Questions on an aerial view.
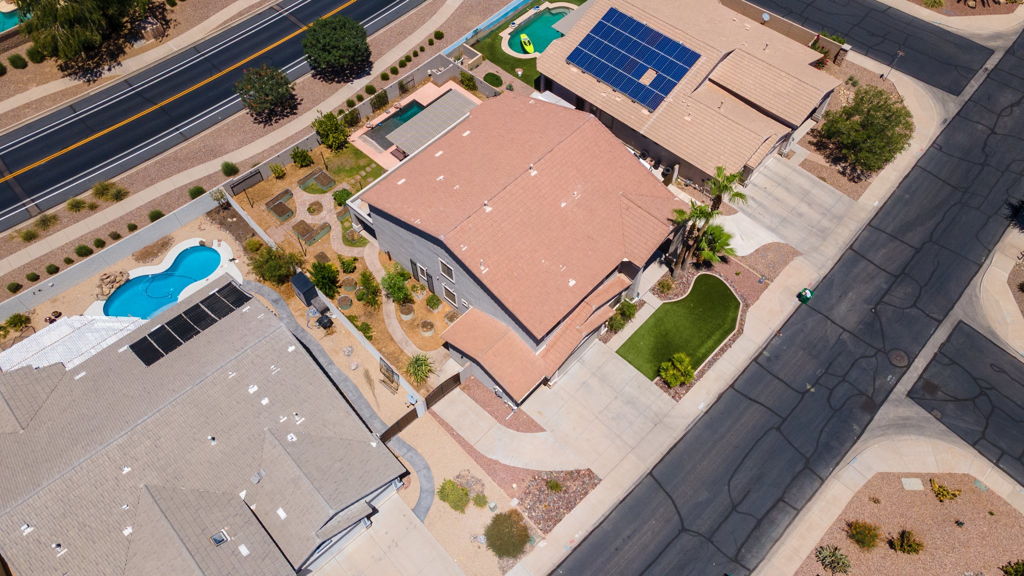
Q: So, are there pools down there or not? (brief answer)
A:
Yes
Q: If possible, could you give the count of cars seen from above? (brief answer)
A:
0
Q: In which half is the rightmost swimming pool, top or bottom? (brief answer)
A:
top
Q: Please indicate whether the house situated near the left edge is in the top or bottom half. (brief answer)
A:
bottom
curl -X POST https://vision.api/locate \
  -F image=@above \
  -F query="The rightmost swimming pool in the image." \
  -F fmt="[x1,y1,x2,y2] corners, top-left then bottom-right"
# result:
[508,6,568,54]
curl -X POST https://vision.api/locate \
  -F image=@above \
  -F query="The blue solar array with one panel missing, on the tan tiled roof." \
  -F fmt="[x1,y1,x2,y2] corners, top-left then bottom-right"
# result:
[564,8,699,111]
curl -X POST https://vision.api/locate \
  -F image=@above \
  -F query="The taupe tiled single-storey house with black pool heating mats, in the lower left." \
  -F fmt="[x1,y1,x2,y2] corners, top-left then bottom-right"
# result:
[0,269,406,576]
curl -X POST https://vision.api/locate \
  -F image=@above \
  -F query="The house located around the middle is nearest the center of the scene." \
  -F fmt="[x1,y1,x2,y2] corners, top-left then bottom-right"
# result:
[345,91,692,427]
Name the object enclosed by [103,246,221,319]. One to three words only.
swimming pool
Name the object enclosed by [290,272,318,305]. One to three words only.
shed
